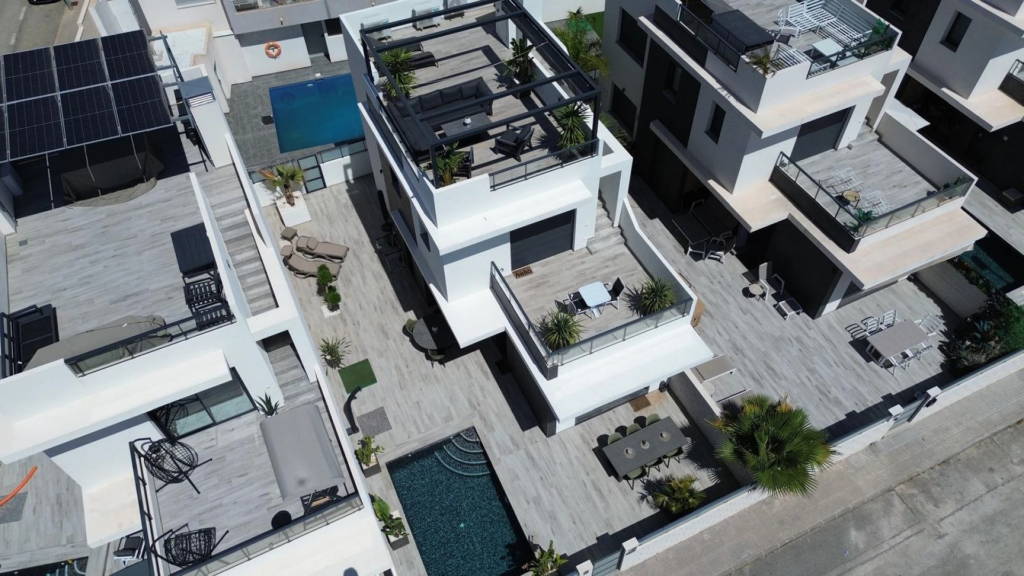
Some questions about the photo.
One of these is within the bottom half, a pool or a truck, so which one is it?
pool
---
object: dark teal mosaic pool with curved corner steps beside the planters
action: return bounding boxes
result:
[386,427,536,576]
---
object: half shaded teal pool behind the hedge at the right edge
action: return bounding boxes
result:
[957,204,1024,297]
